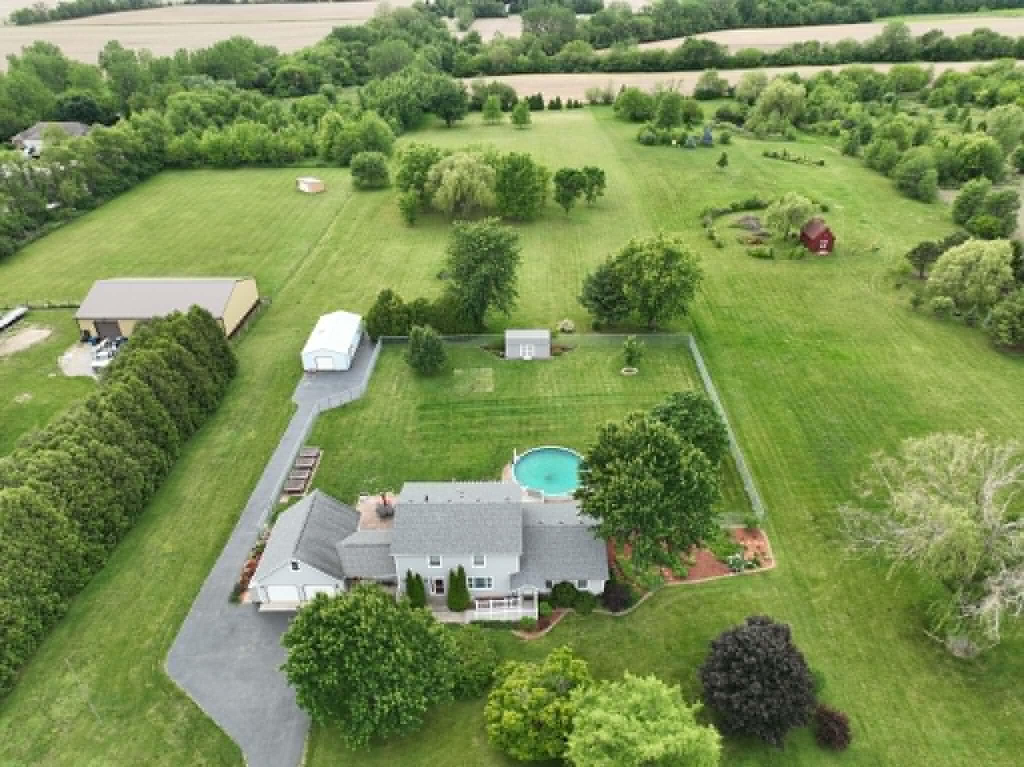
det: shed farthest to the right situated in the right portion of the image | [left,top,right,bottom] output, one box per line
[801,219,838,254]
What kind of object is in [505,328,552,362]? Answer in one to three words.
shed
